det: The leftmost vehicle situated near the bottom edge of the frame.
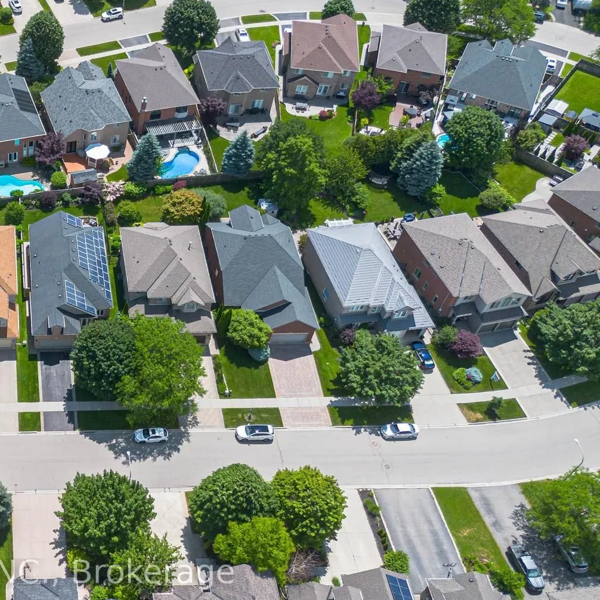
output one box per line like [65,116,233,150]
[505,543,545,598]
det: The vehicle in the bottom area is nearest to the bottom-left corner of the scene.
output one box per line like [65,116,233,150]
[131,426,172,446]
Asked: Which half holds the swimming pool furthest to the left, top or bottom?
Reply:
top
